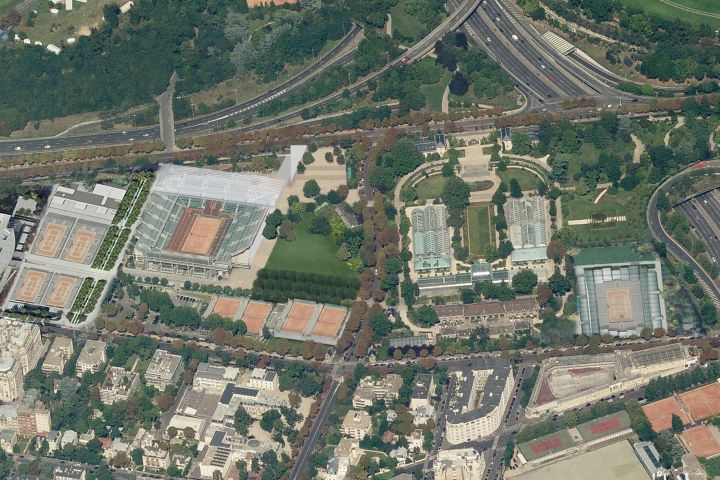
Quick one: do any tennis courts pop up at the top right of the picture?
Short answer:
No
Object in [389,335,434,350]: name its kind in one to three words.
greenhouse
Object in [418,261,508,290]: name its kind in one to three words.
building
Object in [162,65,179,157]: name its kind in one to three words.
overpass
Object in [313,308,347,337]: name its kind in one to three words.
tennis court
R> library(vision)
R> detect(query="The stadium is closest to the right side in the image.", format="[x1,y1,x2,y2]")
[574,261,670,341]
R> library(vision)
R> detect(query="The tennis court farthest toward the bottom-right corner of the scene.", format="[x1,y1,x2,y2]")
[685,424,720,457]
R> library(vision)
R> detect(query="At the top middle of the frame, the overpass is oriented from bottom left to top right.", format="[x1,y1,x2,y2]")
[323,0,480,103]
